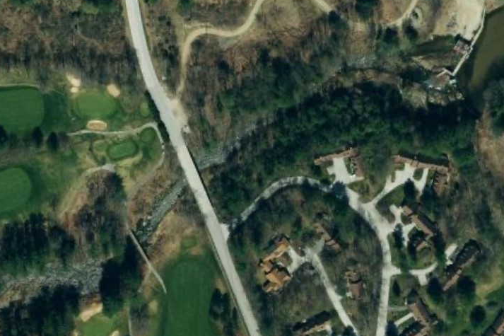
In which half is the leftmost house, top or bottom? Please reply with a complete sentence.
The leftmost house is in the bottom half of the image.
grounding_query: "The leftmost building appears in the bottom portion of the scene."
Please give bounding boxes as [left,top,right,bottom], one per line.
[261,237,294,294]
